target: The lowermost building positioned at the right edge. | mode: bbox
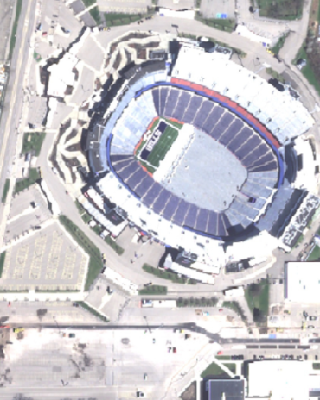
[244,361,320,400]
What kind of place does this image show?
sports ground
